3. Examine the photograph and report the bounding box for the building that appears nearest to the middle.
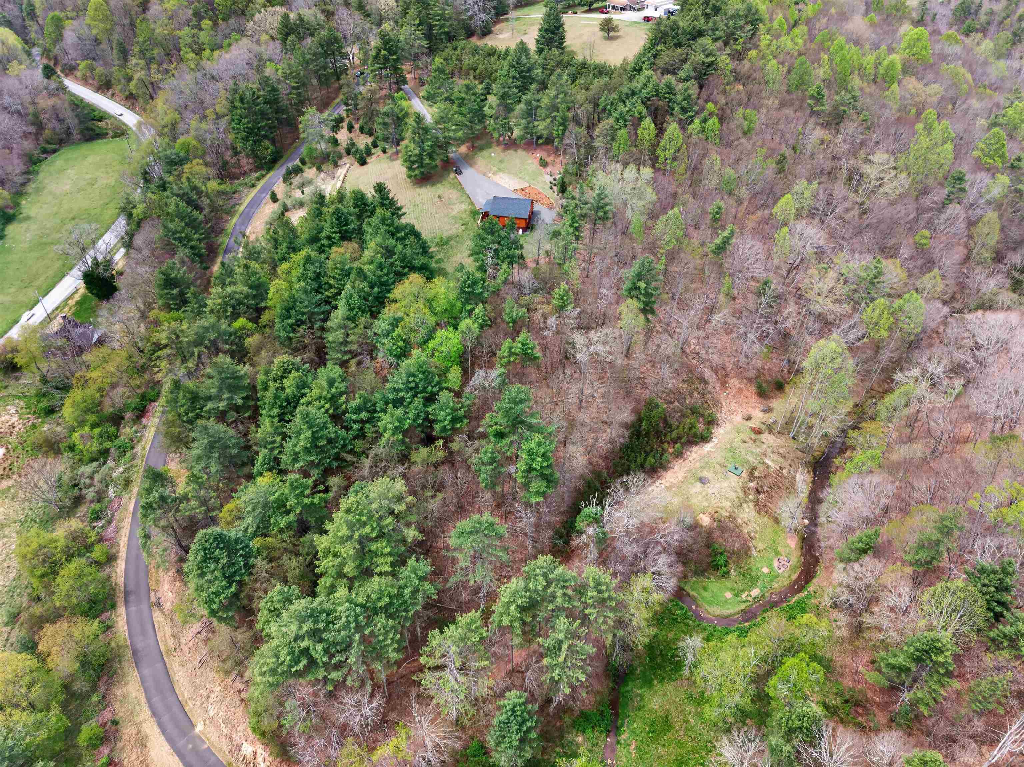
[472,198,531,236]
